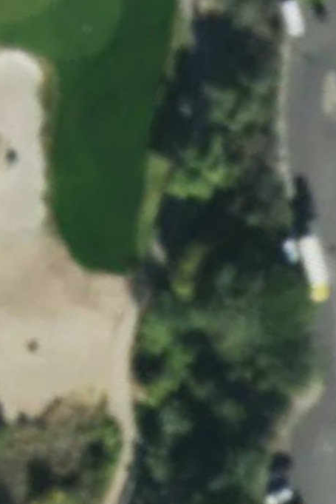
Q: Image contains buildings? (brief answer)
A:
No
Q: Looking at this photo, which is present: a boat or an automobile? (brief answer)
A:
automobile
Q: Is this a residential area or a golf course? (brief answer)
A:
golf course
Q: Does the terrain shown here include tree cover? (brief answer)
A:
Yes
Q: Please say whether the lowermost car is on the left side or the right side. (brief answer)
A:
right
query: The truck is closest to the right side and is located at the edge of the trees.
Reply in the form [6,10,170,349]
[299,236,330,303]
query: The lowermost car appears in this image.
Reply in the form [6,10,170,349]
[264,484,296,504]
